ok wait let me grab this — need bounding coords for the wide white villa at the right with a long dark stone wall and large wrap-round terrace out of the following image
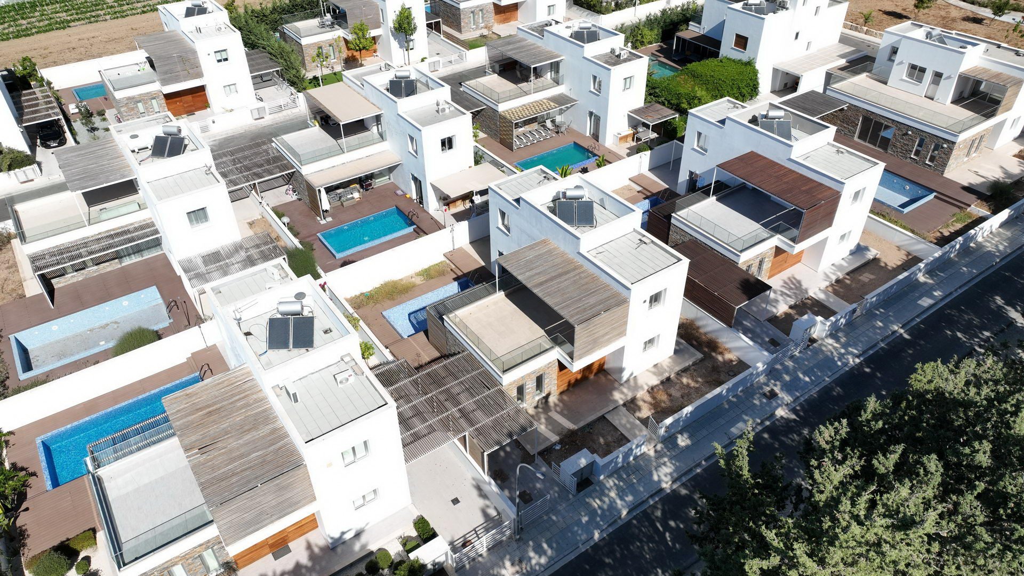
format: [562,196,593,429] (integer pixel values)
[825,15,1024,175]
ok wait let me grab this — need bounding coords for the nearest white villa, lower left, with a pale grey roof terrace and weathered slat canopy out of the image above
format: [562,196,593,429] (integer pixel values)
[91,257,414,576]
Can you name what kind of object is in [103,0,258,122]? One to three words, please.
house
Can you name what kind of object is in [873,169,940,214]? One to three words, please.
swimming pool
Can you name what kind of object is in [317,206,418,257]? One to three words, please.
swimming pool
